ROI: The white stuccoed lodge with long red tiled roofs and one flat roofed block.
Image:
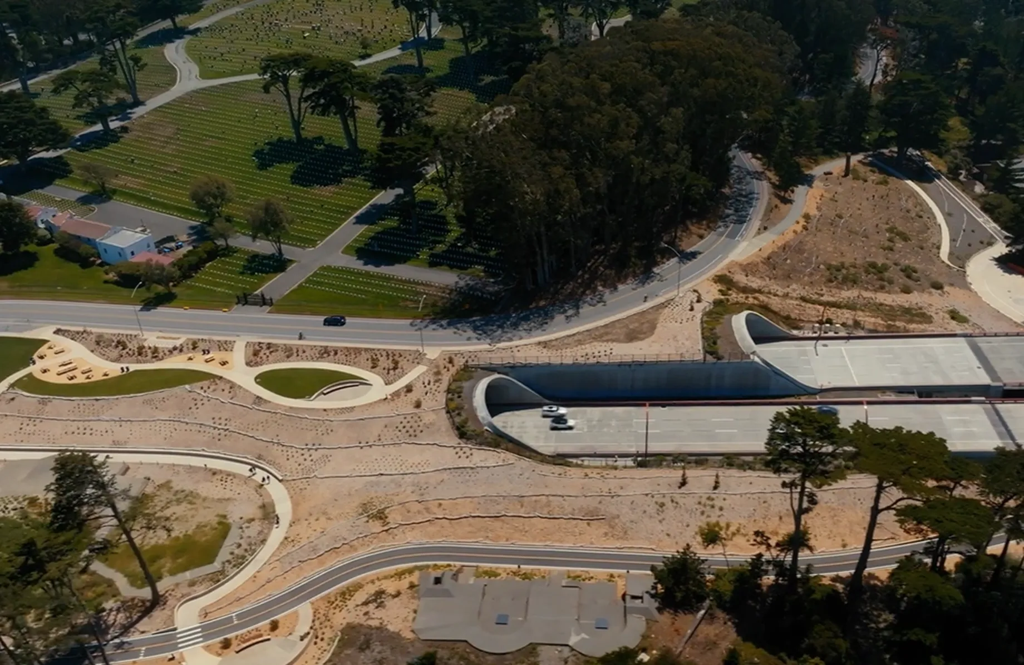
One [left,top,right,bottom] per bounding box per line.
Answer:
[39,208,157,265]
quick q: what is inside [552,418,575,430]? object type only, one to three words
vehicle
